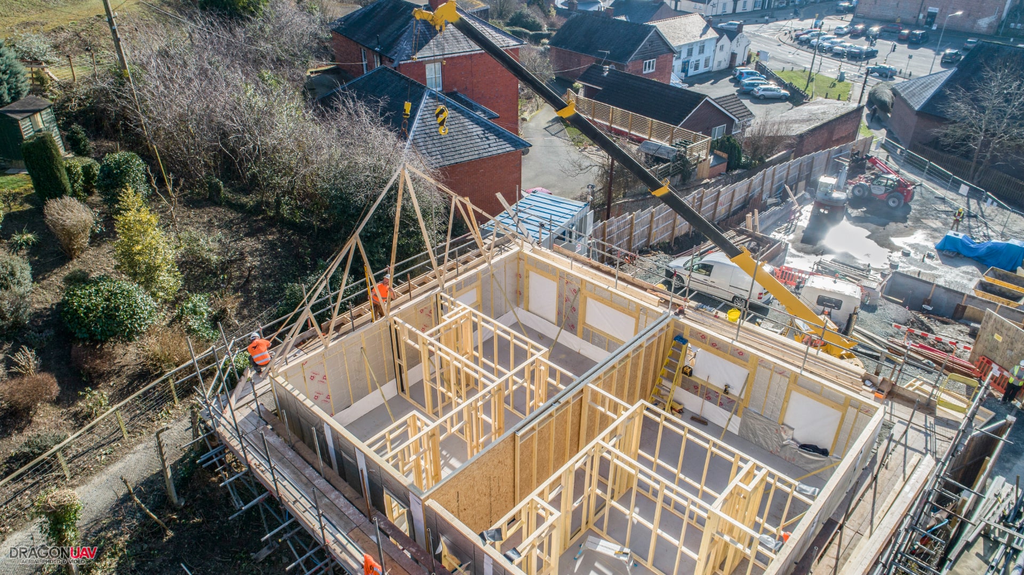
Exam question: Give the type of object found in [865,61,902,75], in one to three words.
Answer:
car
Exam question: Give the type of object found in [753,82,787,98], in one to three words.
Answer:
car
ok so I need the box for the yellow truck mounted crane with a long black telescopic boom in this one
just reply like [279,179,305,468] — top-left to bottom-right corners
[410,0,910,389]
